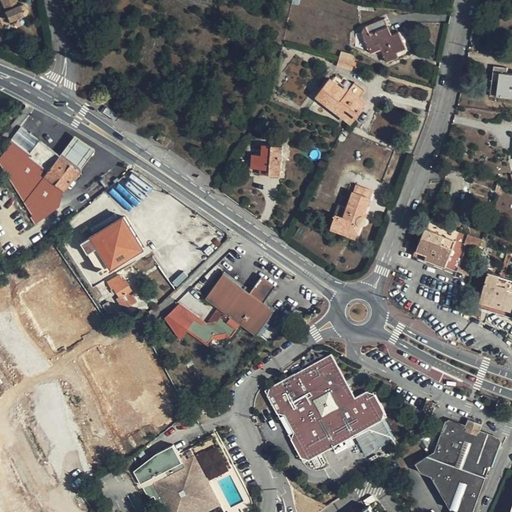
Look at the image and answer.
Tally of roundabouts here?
1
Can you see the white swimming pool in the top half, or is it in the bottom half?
bottom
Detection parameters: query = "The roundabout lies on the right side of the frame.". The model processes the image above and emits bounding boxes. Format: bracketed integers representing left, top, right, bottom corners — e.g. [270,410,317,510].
[311,270,404,345]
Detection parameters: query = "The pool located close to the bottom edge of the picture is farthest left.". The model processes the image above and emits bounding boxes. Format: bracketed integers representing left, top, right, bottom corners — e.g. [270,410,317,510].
[211,468,252,512]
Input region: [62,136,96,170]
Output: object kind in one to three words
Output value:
shed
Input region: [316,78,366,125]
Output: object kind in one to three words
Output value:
house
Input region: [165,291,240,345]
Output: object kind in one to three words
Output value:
building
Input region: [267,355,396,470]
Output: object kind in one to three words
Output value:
building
